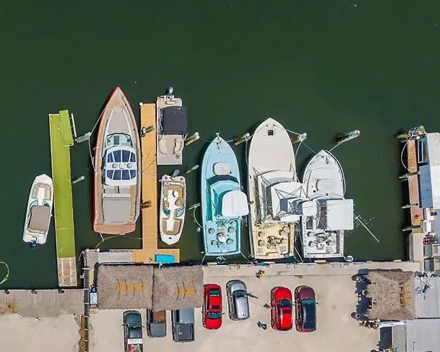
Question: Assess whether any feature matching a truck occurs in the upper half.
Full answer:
No, no truck can be made out in the upper half.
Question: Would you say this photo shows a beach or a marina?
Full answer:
This looks like a marina.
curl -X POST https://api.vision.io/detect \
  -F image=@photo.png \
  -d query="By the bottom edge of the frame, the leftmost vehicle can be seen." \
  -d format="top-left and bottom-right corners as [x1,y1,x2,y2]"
[121,310,144,352]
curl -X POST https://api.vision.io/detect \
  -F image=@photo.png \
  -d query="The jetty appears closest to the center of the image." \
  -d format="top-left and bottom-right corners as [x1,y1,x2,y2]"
[131,103,179,264]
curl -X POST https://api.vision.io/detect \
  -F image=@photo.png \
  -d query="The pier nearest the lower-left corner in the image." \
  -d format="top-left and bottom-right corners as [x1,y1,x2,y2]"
[0,289,84,309]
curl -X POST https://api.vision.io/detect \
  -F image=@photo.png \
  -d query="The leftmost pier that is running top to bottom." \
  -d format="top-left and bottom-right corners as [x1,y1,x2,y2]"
[49,113,77,286]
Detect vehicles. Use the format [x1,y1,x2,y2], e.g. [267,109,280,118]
[170,309,194,345]
[292,285,318,331]
[144,304,169,344]
[121,310,144,352]
[265,285,294,330]
[199,282,225,329]
[224,279,256,320]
